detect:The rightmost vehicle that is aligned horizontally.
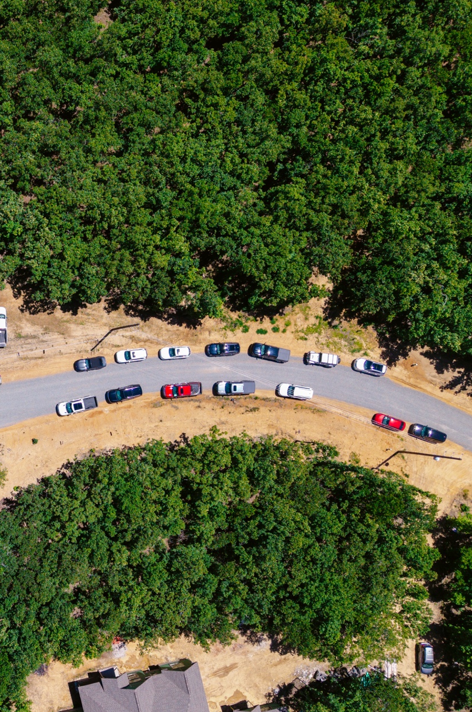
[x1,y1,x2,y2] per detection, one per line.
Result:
[407,424,450,444]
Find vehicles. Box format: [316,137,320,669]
[417,642,438,674]
[350,357,389,375]
[205,340,242,357]
[161,380,204,398]
[104,384,144,401]
[407,424,450,444]
[114,346,148,363]
[304,352,343,367]
[157,345,192,360]
[370,413,408,431]
[275,383,315,399]
[0,306,10,350]
[73,355,107,372]
[55,395,100,416]
[247,342,293,363]
[213,379,257,397]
